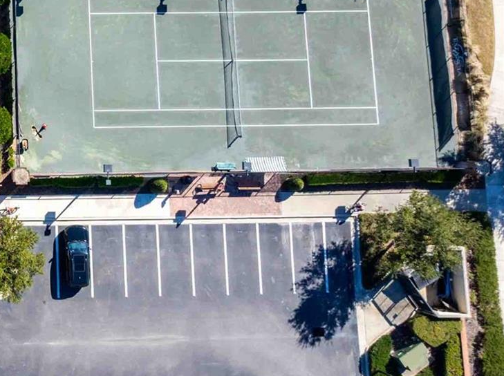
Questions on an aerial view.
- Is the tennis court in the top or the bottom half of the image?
top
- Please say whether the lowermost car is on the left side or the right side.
left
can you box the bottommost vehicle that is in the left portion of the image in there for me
[60,226,90,287]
